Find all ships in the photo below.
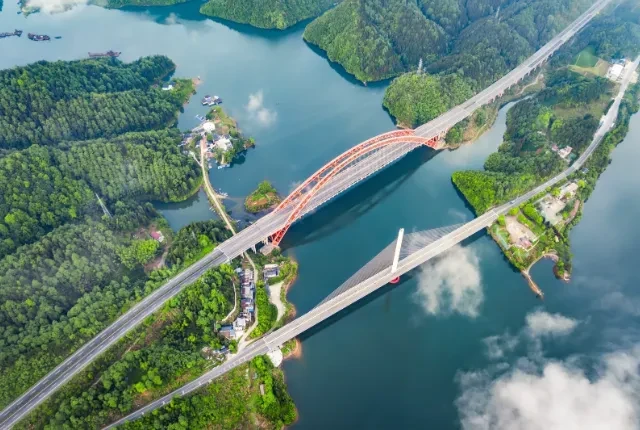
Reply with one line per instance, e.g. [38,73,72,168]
[88,49,119,56]
[28,34,49,39]
[0,29,21,36]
